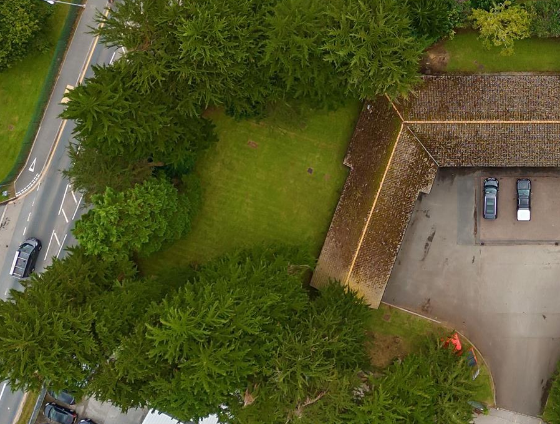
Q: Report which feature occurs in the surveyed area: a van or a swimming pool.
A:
van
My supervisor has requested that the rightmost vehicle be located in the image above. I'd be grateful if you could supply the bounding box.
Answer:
[514,178,532,220]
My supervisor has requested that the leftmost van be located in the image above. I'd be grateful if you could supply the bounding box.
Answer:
[6,237,44,280]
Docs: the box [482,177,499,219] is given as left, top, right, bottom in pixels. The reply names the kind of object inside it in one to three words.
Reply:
car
